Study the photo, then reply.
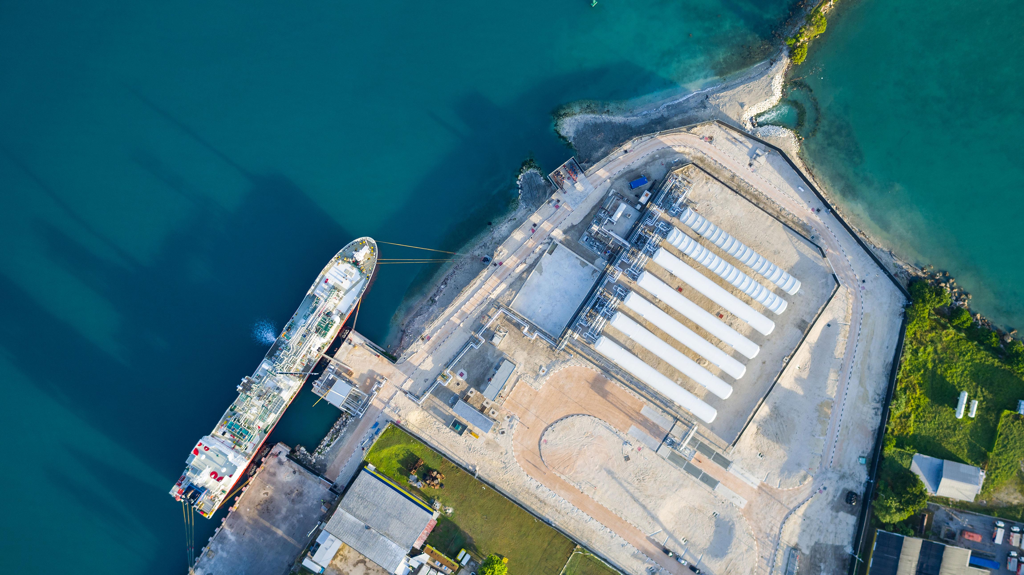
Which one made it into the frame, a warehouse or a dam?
warehouse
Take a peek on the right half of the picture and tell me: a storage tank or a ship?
storage tank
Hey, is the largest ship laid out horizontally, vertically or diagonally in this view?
diagonally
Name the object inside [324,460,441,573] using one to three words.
warehouse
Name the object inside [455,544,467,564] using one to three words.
vehicle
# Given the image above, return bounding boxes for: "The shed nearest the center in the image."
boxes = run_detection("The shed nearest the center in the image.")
[483,359,516,401]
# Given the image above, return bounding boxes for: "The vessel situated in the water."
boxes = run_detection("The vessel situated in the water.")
[169,236,378,519]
